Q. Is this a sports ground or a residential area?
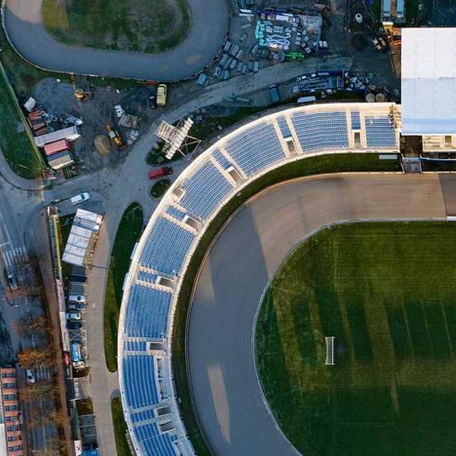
sports ground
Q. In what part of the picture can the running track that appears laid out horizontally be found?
top left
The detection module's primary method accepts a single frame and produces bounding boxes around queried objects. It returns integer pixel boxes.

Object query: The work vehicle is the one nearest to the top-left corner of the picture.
[70,74,86,100]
